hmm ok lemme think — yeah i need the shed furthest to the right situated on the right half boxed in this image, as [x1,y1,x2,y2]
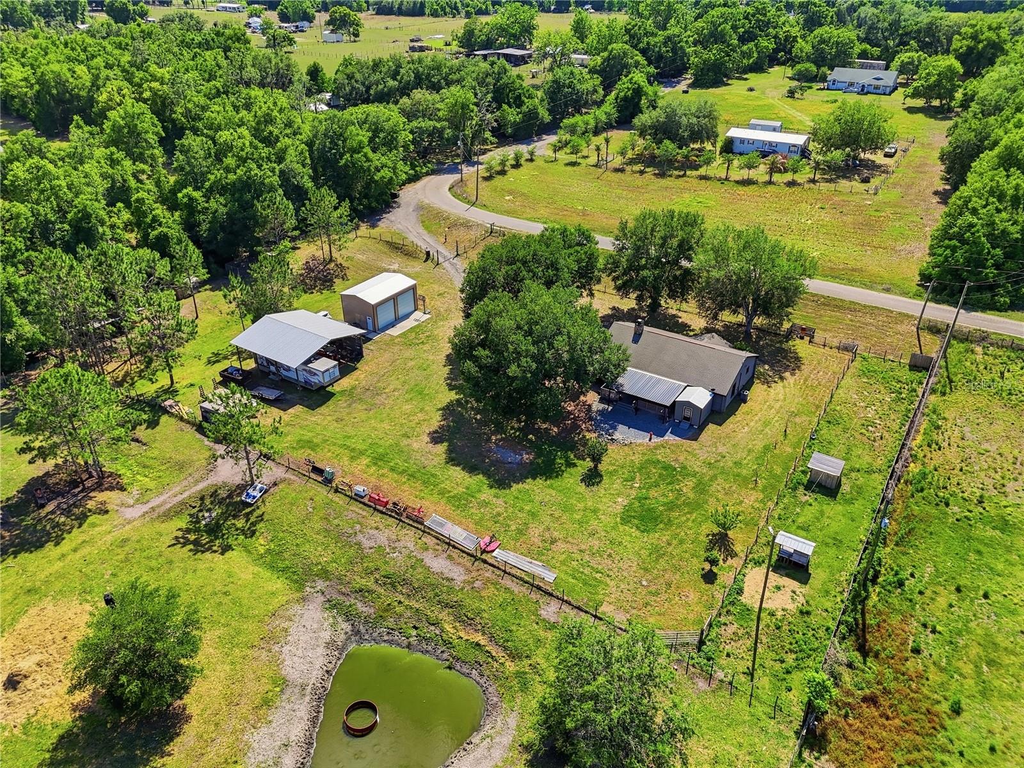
[910,351,939,370]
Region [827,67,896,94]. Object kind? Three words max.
house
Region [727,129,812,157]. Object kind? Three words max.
house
